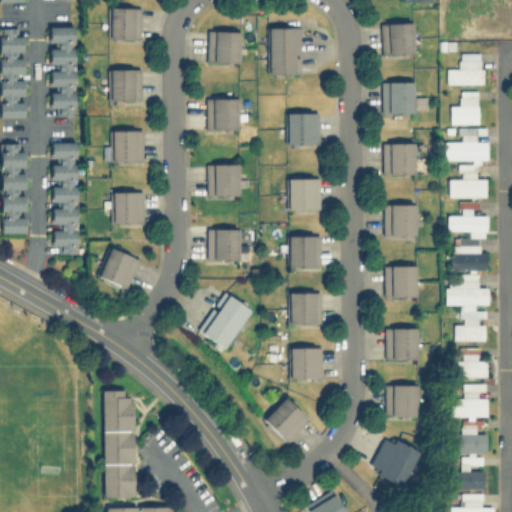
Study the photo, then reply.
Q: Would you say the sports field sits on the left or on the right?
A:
left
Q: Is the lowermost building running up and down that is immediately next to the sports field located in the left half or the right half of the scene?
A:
left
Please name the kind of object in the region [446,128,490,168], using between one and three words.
house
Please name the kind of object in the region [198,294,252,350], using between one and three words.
house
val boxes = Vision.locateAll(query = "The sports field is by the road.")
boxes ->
[0,304,79,512]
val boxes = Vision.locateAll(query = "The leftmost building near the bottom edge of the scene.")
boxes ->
[104,390,136,499]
